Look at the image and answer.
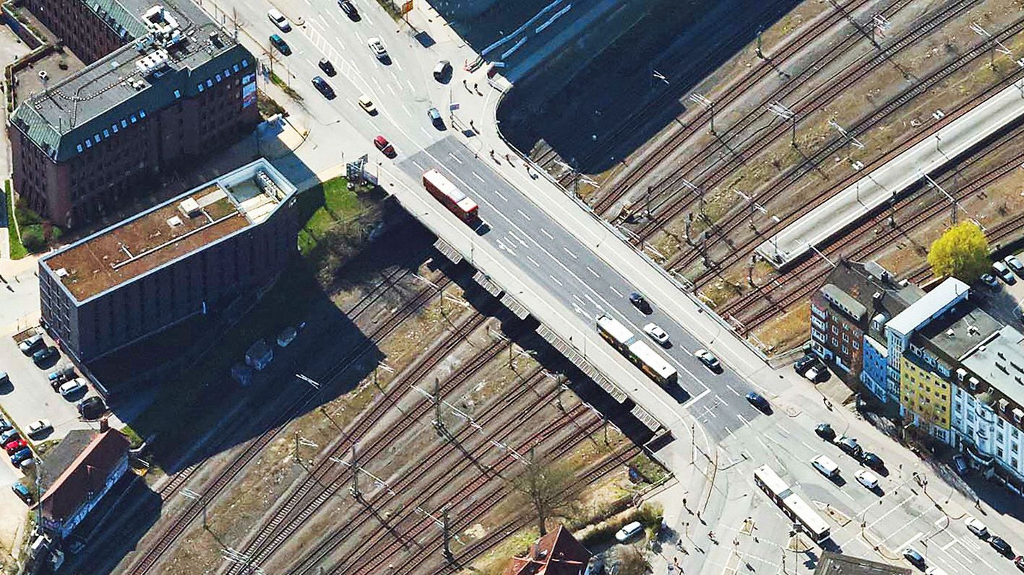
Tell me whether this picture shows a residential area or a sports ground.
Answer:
residential area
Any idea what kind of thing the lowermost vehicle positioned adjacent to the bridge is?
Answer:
bus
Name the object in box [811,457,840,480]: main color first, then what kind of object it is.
white vehicle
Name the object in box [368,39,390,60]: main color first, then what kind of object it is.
white car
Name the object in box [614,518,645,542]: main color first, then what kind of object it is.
white vehicle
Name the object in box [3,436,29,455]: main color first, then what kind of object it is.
red car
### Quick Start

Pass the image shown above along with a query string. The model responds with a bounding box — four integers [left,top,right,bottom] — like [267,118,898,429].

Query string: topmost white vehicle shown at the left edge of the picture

[17,333,46,353]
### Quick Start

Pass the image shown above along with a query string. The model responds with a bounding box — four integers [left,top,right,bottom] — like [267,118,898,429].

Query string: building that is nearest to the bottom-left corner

[28,415,135,553]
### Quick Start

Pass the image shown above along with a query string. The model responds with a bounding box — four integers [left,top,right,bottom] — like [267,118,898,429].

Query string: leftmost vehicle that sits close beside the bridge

[373,137,395,156]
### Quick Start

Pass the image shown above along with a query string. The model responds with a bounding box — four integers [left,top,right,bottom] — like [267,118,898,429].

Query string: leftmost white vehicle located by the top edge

[267,10,292,31]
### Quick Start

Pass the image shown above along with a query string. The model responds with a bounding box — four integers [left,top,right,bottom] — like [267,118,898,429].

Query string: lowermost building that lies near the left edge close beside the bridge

[39,157,302,377]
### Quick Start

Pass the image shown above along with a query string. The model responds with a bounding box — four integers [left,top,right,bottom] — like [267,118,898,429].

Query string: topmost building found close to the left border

[9,0,259,228]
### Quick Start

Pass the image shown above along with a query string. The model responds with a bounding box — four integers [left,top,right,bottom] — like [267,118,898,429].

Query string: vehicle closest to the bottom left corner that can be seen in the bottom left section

[10,484,33,504]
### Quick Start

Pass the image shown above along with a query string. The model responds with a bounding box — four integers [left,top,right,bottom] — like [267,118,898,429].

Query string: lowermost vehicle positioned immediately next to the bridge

[753,465,832,546]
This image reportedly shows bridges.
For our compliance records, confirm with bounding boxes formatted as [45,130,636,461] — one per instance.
[390,83,770,442]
